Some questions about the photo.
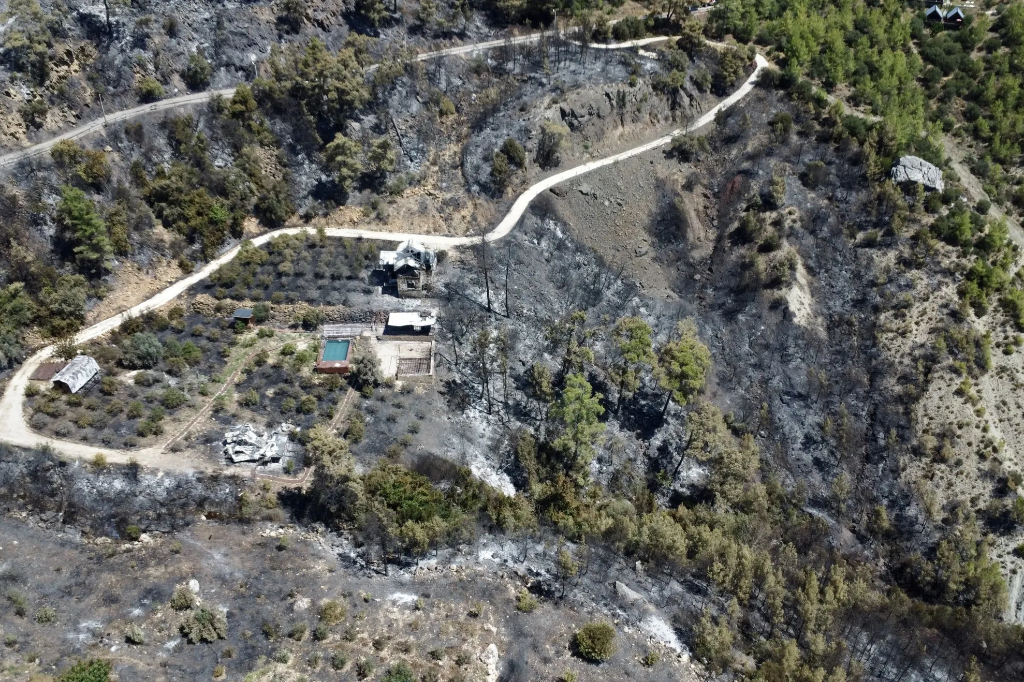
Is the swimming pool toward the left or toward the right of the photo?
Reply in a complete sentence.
The swimming pool appears in the left half of the scene.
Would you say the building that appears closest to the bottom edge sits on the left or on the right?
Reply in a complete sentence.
The building that appears closest to the bottom edge sits on the left side.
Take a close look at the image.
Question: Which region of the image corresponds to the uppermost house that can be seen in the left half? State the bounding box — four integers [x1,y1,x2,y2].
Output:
[378,235,437,298]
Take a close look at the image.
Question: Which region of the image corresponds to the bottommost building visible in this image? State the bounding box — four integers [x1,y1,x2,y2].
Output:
[225,424,305,470]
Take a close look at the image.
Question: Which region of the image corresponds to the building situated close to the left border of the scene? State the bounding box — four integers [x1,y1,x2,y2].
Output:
[50,348,113,392]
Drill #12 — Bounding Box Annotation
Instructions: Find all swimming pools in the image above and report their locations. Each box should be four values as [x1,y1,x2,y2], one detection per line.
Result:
[317,337,353,375]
